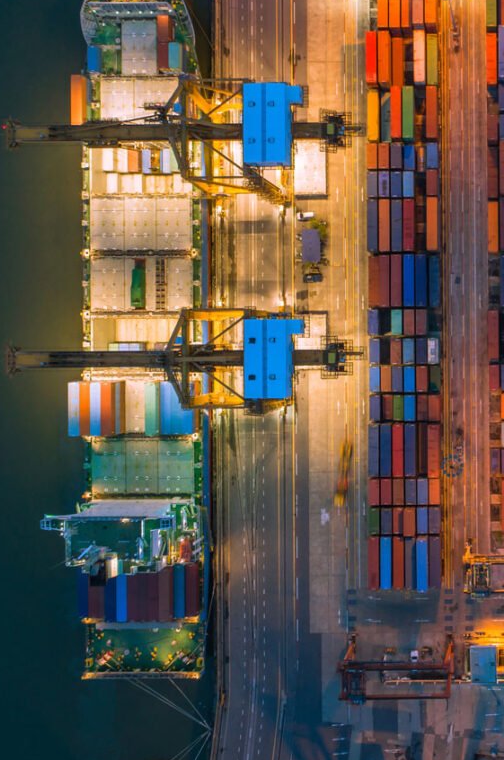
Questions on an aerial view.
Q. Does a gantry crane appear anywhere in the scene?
Yes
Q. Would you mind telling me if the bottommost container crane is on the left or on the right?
right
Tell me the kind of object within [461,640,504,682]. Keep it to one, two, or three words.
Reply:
shed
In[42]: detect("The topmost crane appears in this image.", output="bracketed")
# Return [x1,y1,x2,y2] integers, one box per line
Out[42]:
[4,71,367,218]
